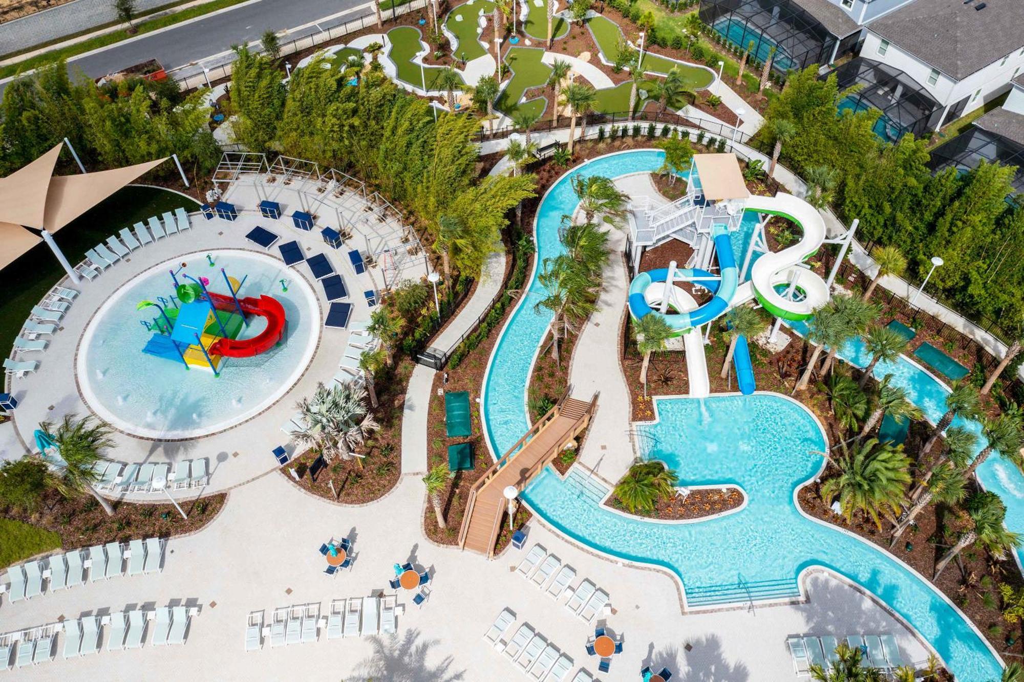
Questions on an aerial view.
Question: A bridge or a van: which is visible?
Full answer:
Looking from above, you can make out a bridge.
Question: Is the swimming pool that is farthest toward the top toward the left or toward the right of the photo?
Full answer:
It is on the right.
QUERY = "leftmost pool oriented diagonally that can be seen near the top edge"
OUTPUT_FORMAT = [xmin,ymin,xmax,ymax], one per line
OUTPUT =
[714,17,797,70]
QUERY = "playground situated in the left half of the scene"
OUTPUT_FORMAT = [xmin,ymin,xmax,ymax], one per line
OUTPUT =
[136,261,287,379]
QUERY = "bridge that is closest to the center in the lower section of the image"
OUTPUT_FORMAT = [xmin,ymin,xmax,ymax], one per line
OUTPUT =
[458,387,594,557]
